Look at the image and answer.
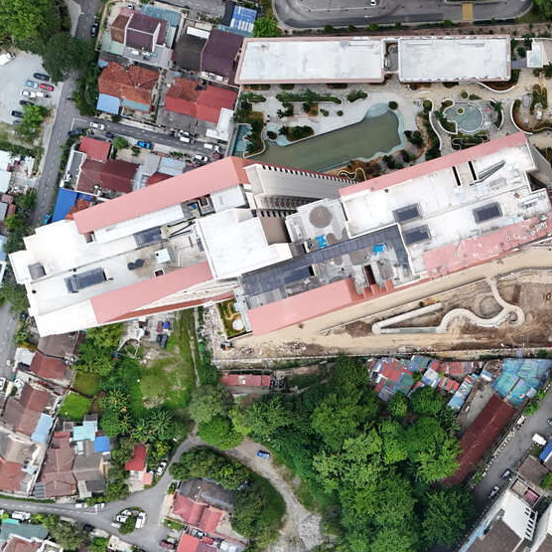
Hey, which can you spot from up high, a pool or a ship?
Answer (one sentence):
The image shows a pool.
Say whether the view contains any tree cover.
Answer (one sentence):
Yes, the picture does contain tree cover.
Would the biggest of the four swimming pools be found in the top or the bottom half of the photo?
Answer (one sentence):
It is in the top half that the biggest of the four swimming pools appears.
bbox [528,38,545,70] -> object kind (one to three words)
shed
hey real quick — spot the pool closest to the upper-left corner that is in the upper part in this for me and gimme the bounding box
[231,123,252,157]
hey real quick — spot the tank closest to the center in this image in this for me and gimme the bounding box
[309,205,335,227]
